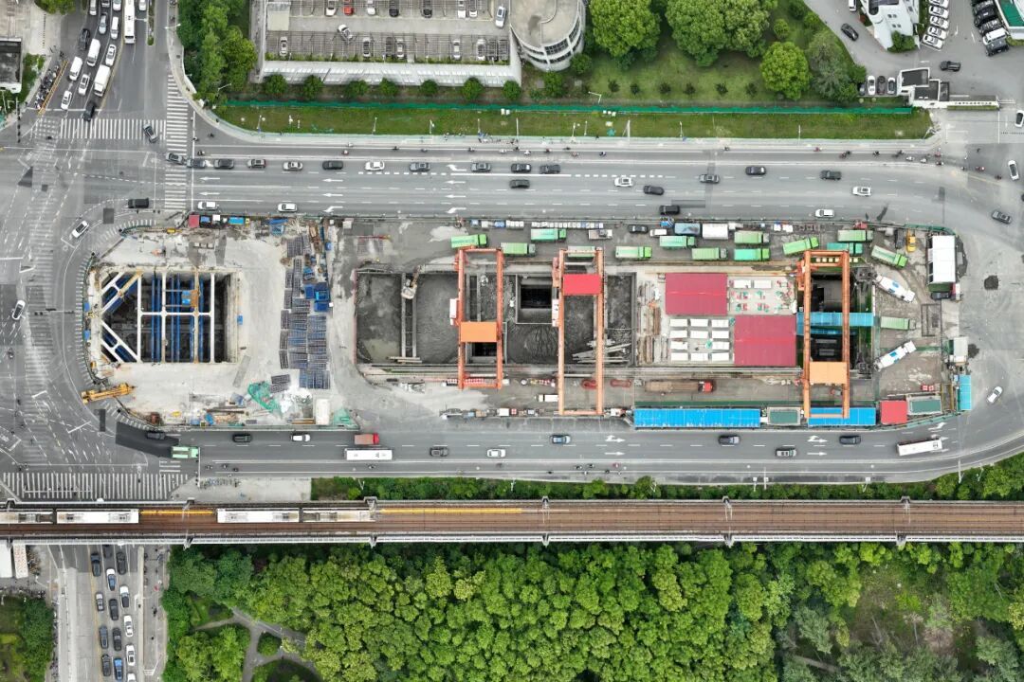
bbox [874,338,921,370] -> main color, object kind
white truck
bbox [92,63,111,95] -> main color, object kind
white vehicle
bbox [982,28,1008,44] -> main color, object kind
white vehicle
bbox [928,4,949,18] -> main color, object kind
white car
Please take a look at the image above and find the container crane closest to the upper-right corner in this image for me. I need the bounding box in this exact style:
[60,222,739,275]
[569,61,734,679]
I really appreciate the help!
[793,250,853,427]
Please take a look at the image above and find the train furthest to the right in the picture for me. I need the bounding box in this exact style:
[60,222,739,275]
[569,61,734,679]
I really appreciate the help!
[217,507,378,522]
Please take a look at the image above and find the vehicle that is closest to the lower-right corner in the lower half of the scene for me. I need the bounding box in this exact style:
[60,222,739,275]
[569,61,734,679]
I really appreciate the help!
[896,437,947,456]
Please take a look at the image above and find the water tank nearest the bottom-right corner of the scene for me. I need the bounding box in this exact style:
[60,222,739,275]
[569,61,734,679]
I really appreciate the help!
[906,395,942,416]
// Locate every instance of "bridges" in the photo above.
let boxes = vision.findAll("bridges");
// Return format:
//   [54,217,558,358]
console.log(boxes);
[0,497,1024,549]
